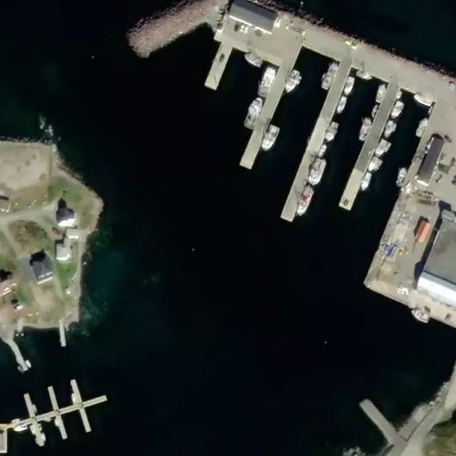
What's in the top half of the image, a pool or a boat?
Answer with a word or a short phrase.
boat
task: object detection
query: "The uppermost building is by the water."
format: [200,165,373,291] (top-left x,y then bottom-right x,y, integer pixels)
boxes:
[228,0,278,34]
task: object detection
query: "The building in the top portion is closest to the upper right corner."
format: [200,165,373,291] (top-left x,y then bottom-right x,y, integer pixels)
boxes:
[416,137,446,186]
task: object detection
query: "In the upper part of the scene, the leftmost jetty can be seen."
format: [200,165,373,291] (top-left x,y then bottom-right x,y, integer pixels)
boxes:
[205,42,233,90]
